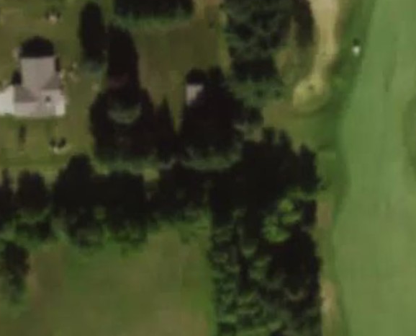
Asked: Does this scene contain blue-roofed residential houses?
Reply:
No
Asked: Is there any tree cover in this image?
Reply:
Yes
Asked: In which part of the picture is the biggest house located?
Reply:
top left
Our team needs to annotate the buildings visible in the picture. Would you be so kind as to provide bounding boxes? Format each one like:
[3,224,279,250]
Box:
[12,58,64,114]
[186,83,204,104]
